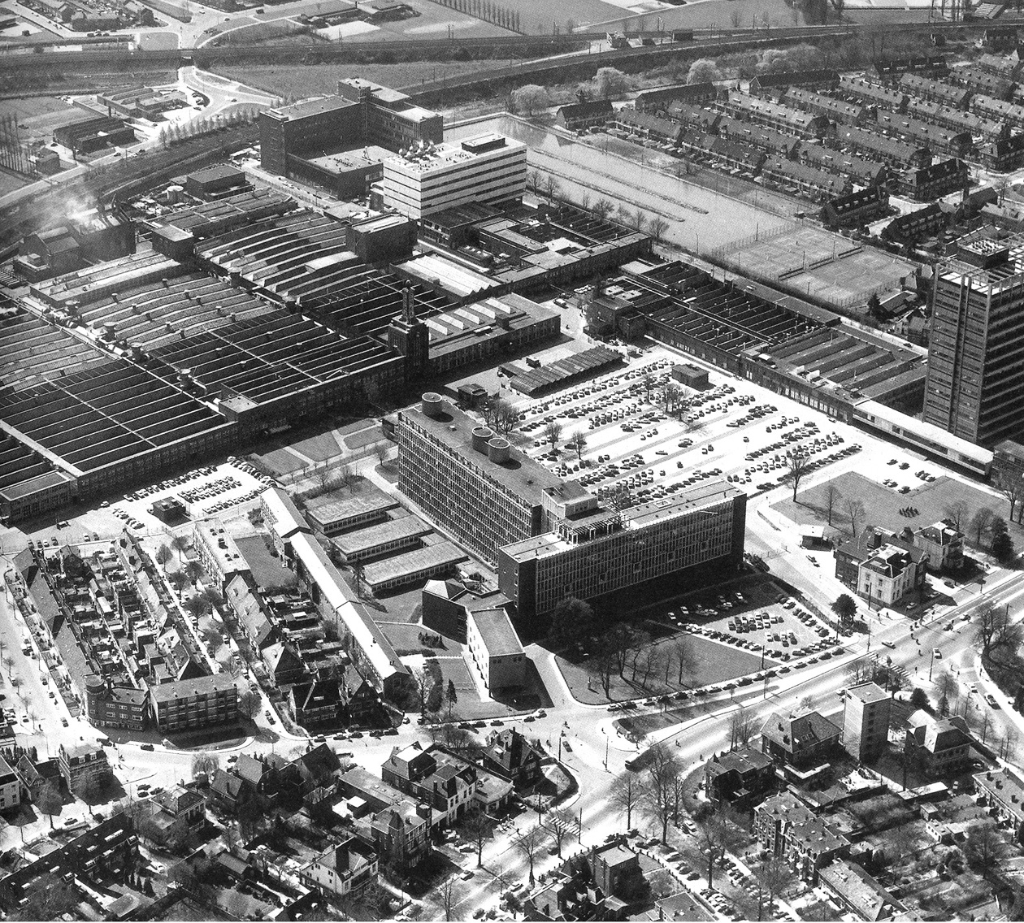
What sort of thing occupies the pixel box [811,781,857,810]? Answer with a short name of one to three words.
building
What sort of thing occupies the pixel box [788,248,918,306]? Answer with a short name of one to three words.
sports court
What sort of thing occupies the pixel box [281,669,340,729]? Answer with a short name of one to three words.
house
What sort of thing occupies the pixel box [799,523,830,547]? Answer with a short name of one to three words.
shed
